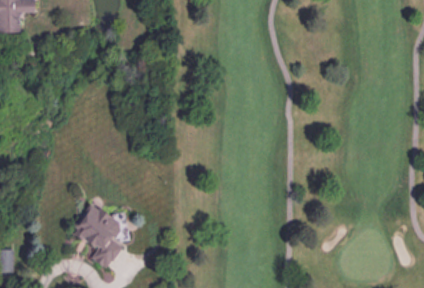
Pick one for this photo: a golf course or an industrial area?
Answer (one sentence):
It's a golf course.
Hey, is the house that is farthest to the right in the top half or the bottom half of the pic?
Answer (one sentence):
The house that is farthest to the right sits in the bottom half of the picture.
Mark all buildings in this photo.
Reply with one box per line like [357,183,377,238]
[0,0,35,34]
[0,250,14,273]
[79,205,122,268]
